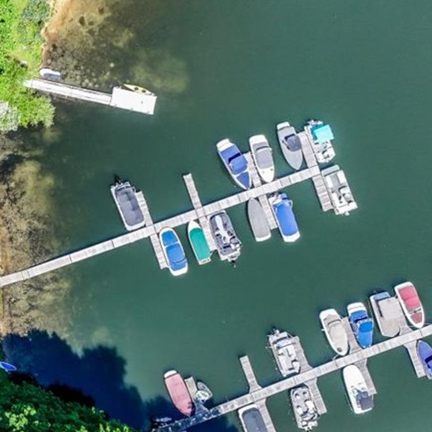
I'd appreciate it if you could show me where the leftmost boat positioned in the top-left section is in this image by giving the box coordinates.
[40,68,62,81]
